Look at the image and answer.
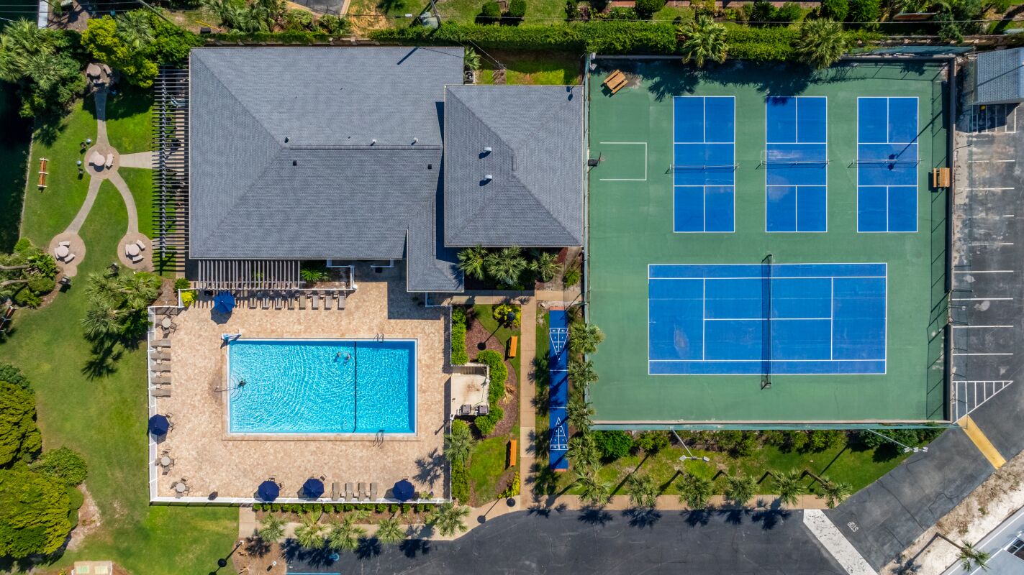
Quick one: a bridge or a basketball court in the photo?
basketball court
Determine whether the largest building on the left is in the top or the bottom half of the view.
top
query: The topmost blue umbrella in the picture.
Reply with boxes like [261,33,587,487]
[214,290,236,312]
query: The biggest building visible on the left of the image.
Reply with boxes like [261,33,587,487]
[188,46,585,293]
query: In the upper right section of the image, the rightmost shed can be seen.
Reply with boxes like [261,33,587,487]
[959,48,1024,108]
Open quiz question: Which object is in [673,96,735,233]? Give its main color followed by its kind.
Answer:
blue sports court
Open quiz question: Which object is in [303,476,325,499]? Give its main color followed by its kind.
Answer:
blue umbrella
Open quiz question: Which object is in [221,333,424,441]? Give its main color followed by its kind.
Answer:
blue swimming pool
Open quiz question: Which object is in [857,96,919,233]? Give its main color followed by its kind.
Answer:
blue sports court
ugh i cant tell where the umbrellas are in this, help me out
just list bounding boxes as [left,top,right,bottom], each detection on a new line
[149,413,173,436]
[303,476,325,499]
[393,479,415,501]
[258,479,281,502]
[214,290,236,312]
